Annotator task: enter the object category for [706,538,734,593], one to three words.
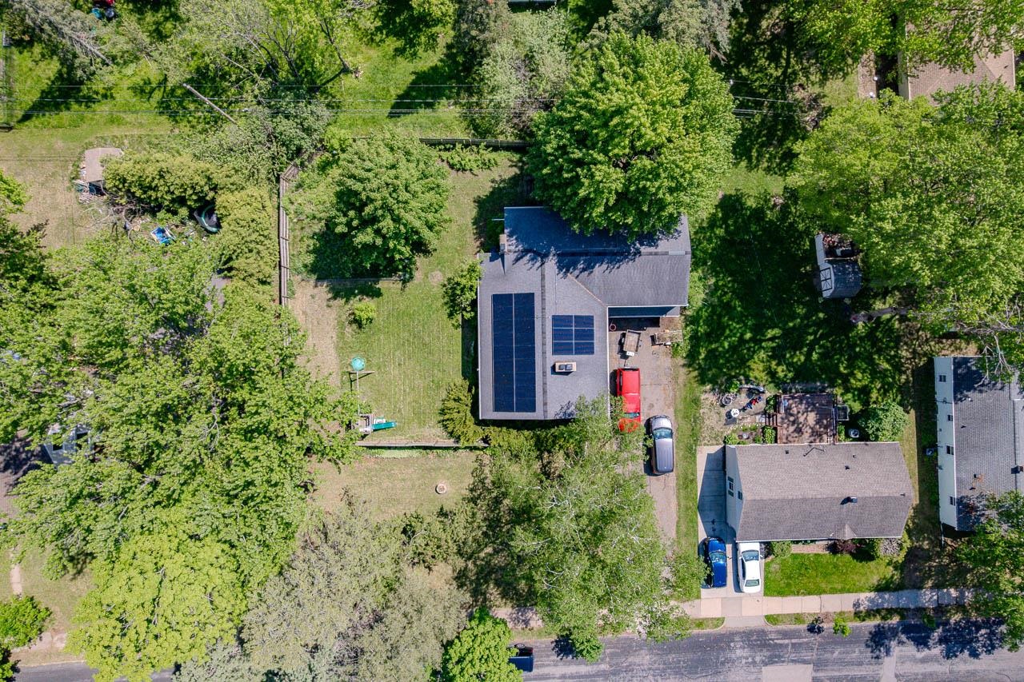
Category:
car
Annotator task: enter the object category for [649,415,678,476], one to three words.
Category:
van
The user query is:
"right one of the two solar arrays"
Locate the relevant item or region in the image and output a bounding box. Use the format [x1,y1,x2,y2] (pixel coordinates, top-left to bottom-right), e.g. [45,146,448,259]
[553,315,594,355]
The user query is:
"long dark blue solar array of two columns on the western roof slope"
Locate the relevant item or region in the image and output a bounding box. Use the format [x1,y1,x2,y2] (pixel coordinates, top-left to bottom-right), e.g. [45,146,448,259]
[492,293,535,412]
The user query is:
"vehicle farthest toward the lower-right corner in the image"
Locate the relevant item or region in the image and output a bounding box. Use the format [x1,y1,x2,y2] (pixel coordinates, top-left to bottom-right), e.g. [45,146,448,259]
[736,542,765,599]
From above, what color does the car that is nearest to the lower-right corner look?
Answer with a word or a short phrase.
white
